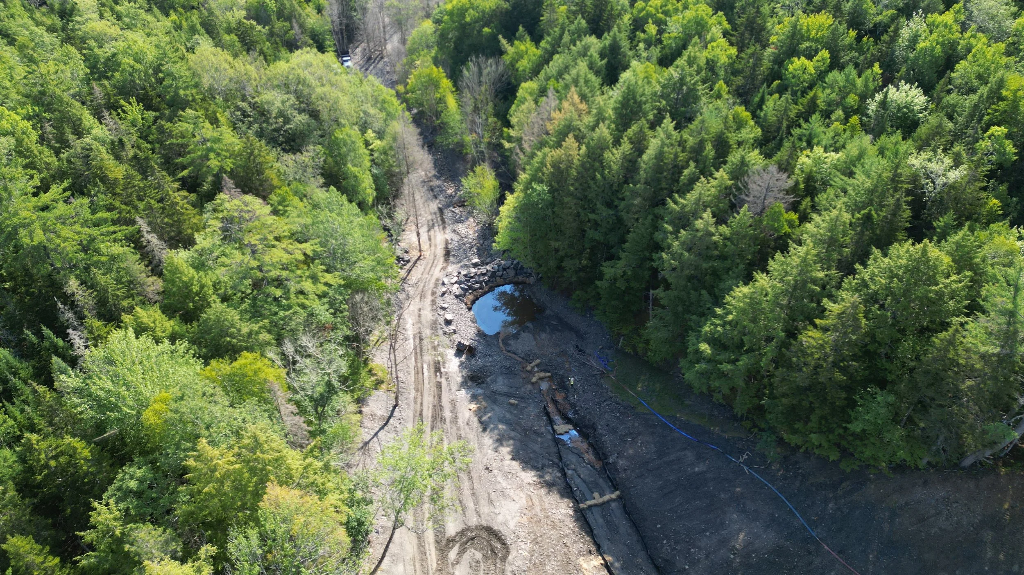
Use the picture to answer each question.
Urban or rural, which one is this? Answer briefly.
rural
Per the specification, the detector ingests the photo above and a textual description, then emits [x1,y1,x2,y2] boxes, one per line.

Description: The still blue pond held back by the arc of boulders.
[470,281,549,340]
